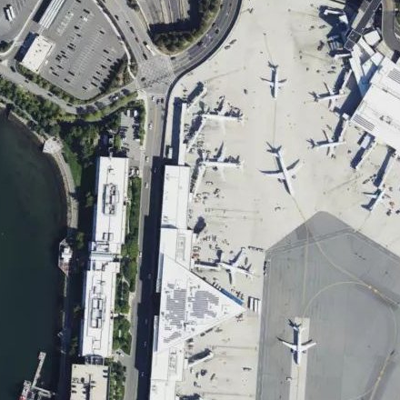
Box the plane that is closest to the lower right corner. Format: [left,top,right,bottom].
[282,319,317,366]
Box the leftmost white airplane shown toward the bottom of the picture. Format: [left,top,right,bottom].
[217,253,258,289]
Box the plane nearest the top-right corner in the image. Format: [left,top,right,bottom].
[309,82,348,113]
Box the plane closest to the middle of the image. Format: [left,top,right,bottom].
[201,144,247,183]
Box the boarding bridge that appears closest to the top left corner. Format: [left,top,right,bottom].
[186,85,208,110]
